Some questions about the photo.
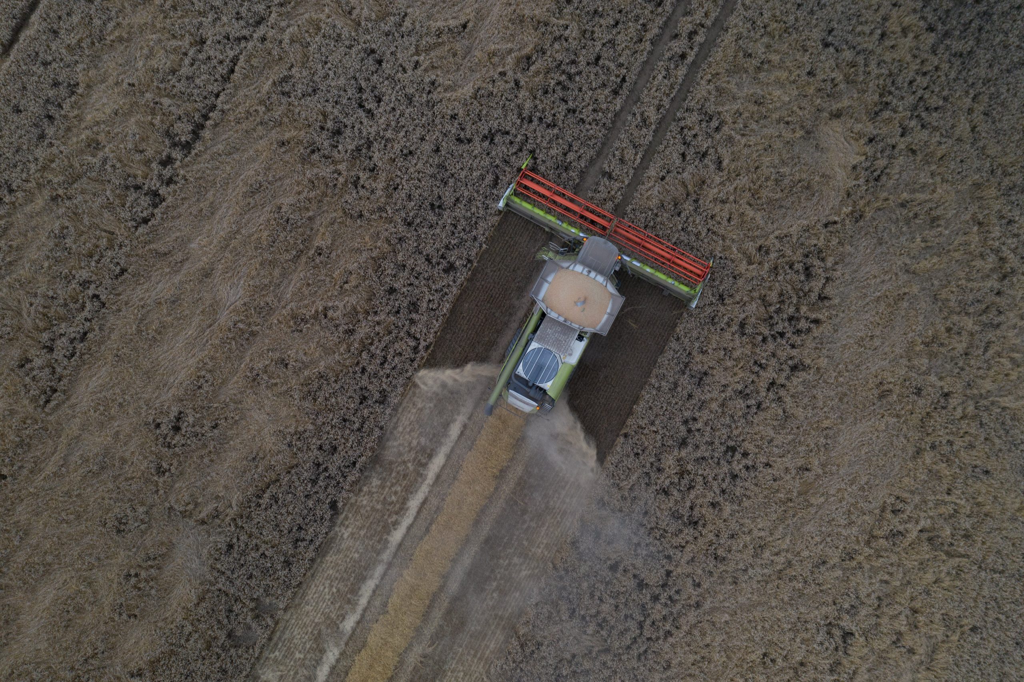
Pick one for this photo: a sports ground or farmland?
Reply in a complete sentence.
This looks like farmland.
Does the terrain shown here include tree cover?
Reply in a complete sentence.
No, the picture contains no tree cover.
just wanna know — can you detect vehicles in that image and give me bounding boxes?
[485,155,714,421]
